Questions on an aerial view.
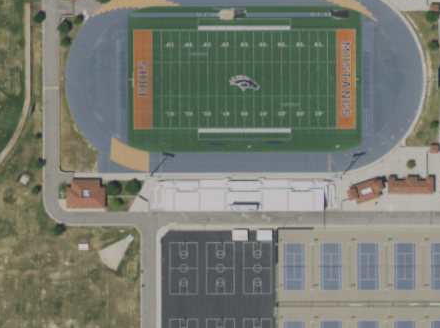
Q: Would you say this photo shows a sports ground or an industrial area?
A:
sports ground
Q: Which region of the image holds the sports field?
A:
top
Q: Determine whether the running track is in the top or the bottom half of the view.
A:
top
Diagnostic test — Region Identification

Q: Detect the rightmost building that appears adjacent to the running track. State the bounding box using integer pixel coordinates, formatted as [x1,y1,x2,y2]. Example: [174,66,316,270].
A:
[388,176,434,194]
